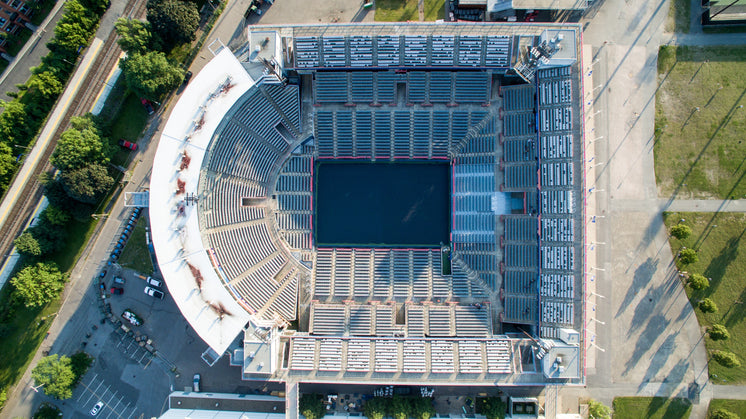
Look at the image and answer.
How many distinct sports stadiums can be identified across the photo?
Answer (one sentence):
The photo contains exactly 1 sports stadium.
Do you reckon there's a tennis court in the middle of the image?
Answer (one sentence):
Yes, a tennis court is visible in the middle of the image.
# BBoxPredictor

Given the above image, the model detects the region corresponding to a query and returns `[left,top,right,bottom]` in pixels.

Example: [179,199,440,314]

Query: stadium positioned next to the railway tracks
[125,23,584,383]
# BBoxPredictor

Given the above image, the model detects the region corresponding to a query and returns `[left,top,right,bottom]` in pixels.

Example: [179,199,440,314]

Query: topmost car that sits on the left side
[182,67,195,82]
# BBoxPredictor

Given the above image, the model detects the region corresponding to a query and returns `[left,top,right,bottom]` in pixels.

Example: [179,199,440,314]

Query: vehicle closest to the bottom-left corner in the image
[90,400,105,415]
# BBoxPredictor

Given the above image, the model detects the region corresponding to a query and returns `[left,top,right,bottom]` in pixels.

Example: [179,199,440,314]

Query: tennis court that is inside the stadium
[313,159,452,249]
